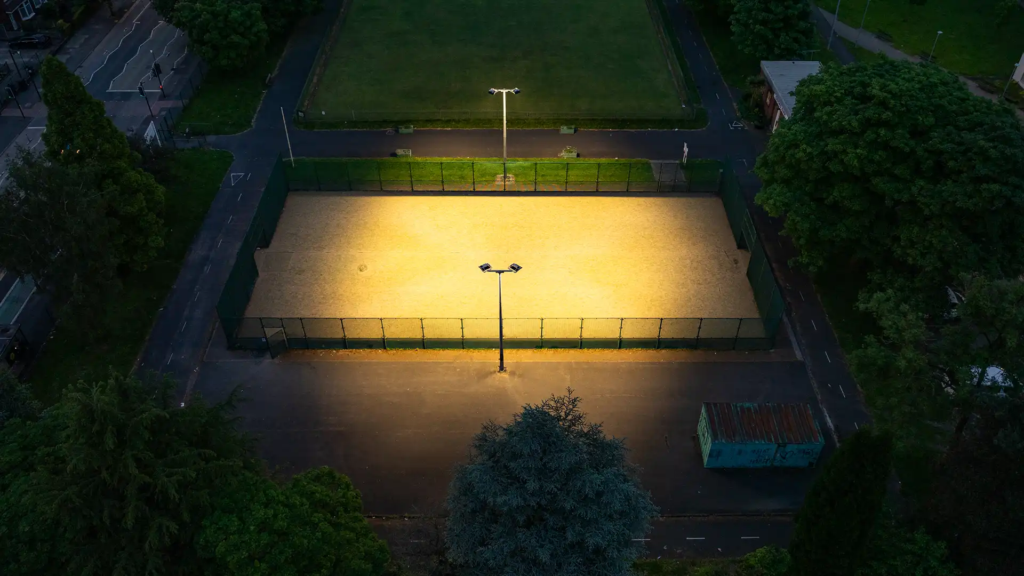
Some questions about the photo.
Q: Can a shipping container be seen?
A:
Yes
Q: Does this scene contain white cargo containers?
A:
No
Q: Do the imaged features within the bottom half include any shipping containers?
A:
Yes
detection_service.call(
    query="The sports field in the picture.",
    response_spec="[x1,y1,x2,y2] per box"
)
[235,194,768,349]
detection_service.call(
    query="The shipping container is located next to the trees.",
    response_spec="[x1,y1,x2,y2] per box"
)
[697,403,825,468]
